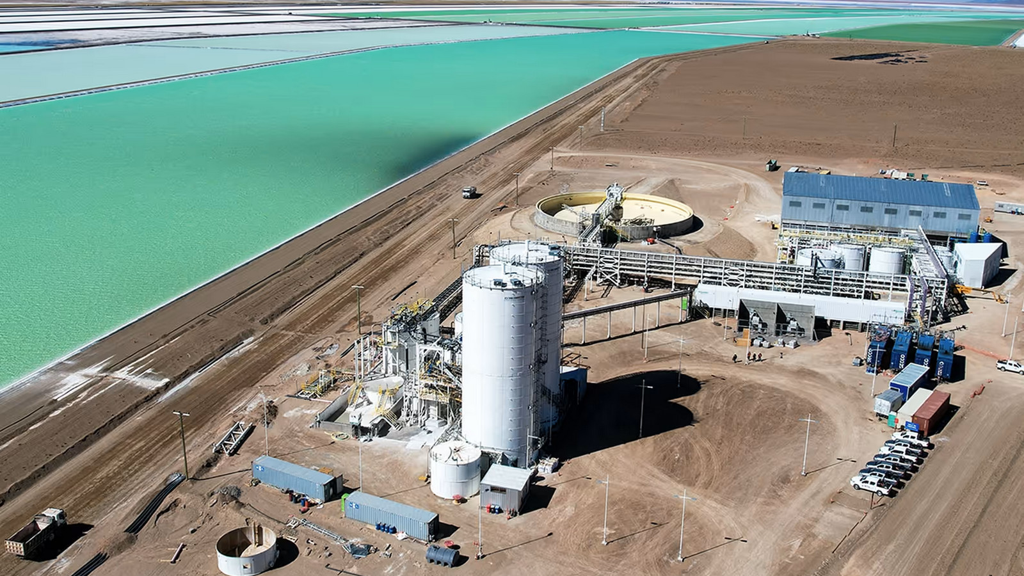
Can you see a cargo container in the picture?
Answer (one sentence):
Yes, I can see a cargo container in this picture.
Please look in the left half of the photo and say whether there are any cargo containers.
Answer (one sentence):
Yes, you'll find a cargo container in the left half of the photo.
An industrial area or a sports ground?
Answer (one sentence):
This looks like an industrial area.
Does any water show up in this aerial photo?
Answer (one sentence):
Yes, there is water in the image.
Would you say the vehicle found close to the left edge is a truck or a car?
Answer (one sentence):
Looking closely, the vehicle found close to the left edge is a truck.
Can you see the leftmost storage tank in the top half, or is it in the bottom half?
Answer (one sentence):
You can find the leftmost storage tank in the bottom half.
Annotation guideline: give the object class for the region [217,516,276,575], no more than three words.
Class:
storage tank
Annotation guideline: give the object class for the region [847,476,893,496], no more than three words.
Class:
vehicle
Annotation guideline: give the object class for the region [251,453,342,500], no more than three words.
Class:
shipping container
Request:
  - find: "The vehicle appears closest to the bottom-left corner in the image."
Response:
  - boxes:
[4,504,76,559]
